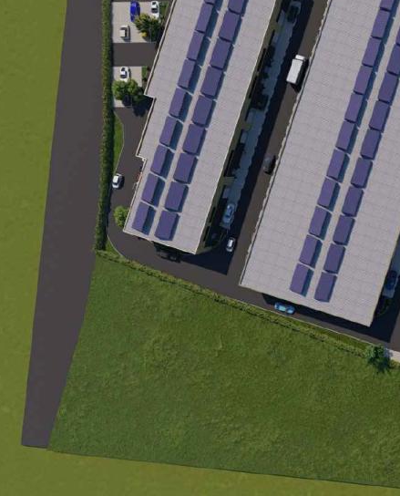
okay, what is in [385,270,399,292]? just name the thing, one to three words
vehicle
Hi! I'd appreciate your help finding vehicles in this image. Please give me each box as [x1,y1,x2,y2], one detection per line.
[113,173,124,190]
[149,0,160,19]
[226,237,236,253]
[119,22,130,44]
[385,270,399,292]
[222,204,235,226]
[274,302,295,315]
[130,1,140,22]
[120,66,130,82]
[263,154,276,174]
[287,57,307,88]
